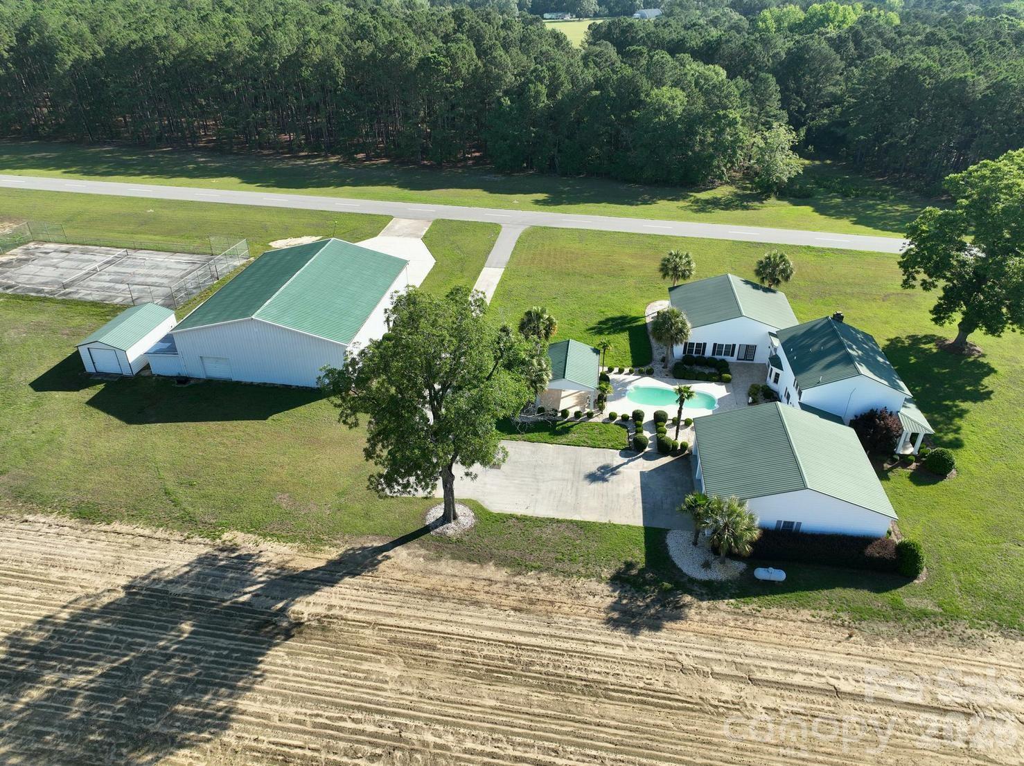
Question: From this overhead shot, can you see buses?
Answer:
No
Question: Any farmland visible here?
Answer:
Yes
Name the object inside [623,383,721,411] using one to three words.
swimming pool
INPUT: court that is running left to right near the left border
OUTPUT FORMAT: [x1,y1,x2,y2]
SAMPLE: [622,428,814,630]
[0,239,247,310]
